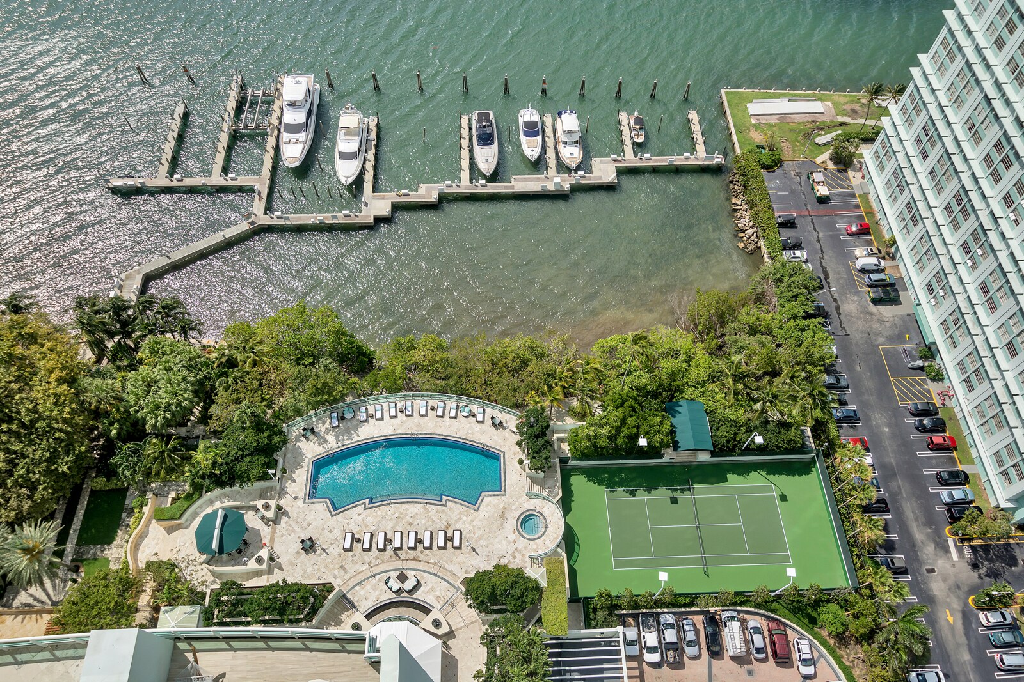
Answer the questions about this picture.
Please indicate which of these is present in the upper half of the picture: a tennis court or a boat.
boat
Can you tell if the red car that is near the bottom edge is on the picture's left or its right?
right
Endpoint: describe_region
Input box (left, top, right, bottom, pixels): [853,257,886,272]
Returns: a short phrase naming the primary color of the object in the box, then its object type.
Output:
white vehicle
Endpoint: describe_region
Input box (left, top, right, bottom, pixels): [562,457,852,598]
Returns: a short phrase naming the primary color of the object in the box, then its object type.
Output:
green tennis court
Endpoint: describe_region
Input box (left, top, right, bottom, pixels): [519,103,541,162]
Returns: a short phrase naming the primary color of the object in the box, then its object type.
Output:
white boat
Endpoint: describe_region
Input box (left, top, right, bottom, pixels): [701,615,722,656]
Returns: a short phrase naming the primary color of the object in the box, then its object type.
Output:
black car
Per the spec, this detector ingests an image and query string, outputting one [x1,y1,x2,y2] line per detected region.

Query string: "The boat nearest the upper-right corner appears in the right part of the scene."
[630,114,645,144]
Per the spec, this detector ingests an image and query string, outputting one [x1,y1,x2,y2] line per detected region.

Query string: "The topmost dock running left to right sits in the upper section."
[104,155,724,317]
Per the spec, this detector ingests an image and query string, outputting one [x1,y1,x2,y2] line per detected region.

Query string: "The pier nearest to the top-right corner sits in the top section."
[686,101,707,156]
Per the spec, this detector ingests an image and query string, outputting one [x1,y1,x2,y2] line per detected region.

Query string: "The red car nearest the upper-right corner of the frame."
[844,222,872,236]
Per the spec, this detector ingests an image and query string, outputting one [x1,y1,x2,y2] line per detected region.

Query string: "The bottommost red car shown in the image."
[767,621,791,663]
